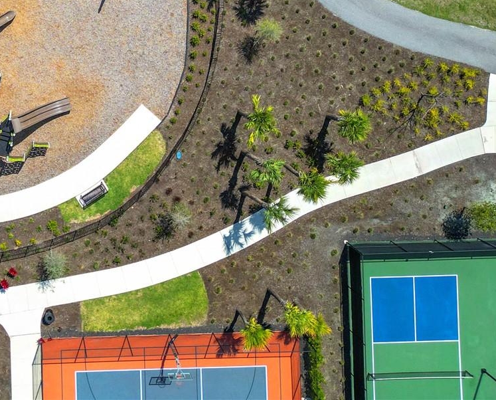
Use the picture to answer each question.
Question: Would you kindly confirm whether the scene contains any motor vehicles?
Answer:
No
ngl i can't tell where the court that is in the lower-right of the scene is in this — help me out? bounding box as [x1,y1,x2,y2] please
[370,274,463,400]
